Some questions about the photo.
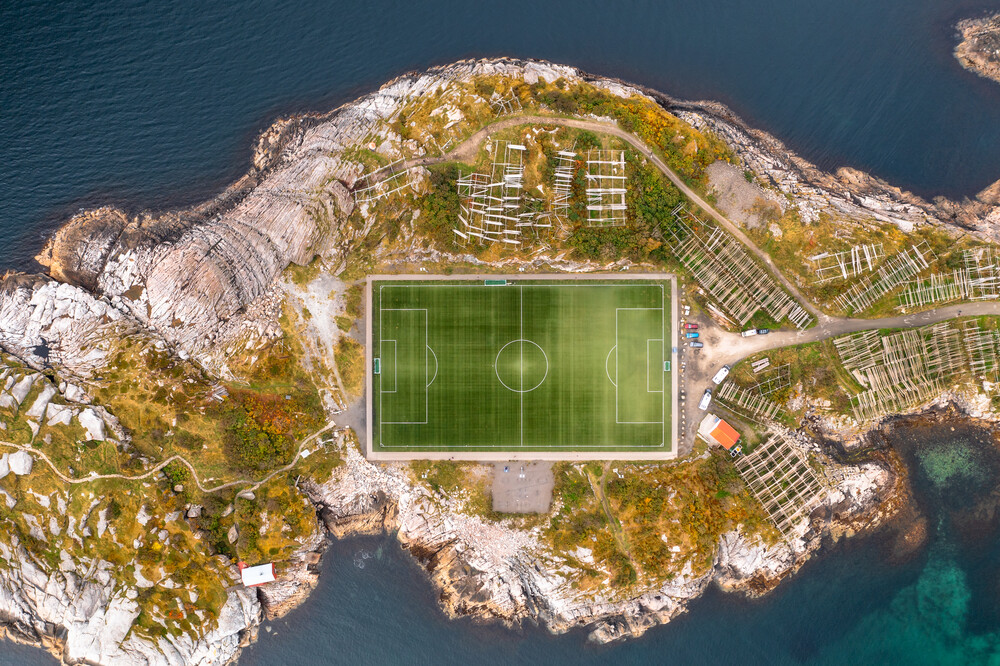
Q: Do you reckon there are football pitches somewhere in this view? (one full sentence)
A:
Yes, you can see a football pitch in this photo.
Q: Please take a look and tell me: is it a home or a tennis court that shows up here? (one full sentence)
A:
It is a home that can be seen here.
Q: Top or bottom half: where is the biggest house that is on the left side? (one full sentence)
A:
The biggest house that is on the left side is in the bottom half of the image.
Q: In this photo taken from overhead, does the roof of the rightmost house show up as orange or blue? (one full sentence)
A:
From above, the roof of the rightmost house appears orange.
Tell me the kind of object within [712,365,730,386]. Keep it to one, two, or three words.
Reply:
vehicle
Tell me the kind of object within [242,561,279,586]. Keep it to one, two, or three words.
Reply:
house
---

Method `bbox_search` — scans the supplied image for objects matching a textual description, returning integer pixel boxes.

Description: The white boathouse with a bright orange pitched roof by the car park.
[708,419,740,450]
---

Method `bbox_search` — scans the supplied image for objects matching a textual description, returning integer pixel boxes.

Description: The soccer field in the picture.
[368,275,677,460]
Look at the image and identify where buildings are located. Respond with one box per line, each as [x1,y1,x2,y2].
[708,419,740,450]
[242,561,279,586]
